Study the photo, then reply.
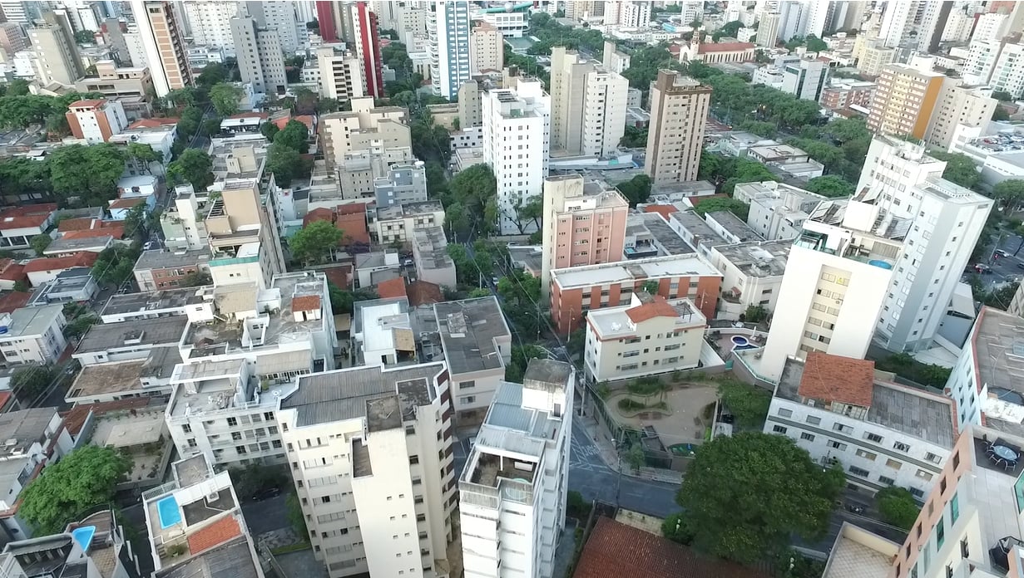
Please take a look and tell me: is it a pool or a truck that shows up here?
pool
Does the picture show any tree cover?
Yes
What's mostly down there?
buildings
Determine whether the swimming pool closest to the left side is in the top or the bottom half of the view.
bottom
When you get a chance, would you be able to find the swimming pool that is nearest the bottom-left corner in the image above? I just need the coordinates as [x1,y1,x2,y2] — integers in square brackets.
[71,524,97,550]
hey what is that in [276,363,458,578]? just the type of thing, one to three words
building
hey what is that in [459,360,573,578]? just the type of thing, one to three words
building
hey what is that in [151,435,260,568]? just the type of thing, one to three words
house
